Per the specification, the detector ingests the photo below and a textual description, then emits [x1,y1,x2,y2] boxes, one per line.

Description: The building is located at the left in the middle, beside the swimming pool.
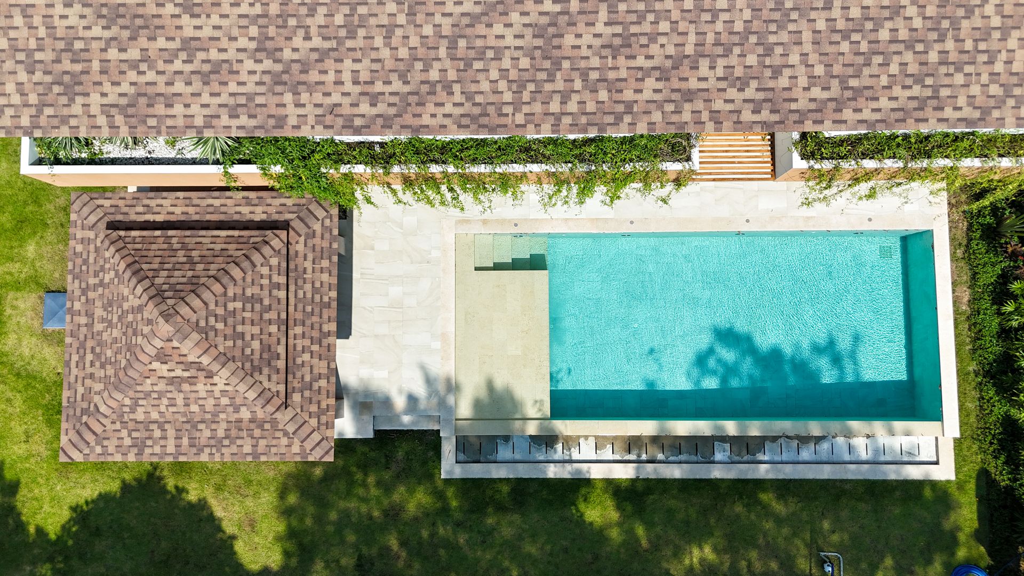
[58,189,346,462]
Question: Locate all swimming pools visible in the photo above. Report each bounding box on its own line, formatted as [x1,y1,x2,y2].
[440,217,960,437]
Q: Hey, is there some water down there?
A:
Yes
